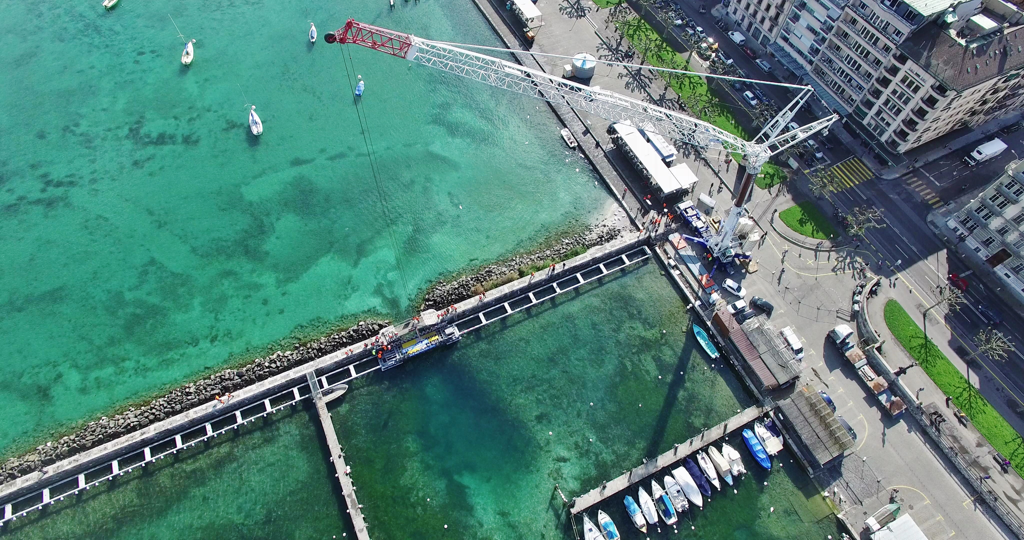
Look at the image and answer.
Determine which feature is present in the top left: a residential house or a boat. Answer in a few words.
boat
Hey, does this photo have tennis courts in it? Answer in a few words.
No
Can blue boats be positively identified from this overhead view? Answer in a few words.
Yes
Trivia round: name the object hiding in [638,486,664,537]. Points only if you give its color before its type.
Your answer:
white boat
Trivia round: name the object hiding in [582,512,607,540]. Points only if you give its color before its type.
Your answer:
white boat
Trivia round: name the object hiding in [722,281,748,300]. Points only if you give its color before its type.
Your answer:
white car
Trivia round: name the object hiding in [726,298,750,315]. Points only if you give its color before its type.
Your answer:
white car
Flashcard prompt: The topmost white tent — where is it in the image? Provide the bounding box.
[514,0,542,28]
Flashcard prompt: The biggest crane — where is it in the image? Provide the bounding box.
[327,11,840,330]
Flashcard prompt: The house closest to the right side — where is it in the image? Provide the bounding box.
[948,153,1024,303]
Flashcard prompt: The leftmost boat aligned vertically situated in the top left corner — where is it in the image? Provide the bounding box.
[173,21,194,70]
